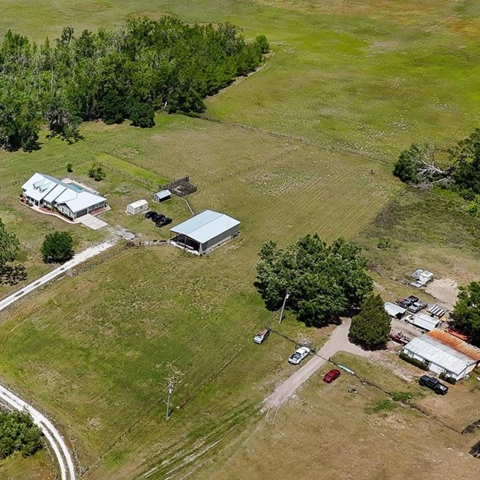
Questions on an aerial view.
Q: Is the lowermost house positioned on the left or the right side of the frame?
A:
right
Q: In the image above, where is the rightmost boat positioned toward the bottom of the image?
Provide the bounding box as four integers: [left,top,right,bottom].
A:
[440,325,476,342]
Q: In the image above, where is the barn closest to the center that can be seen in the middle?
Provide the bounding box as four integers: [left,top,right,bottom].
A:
[168,209,242,257]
